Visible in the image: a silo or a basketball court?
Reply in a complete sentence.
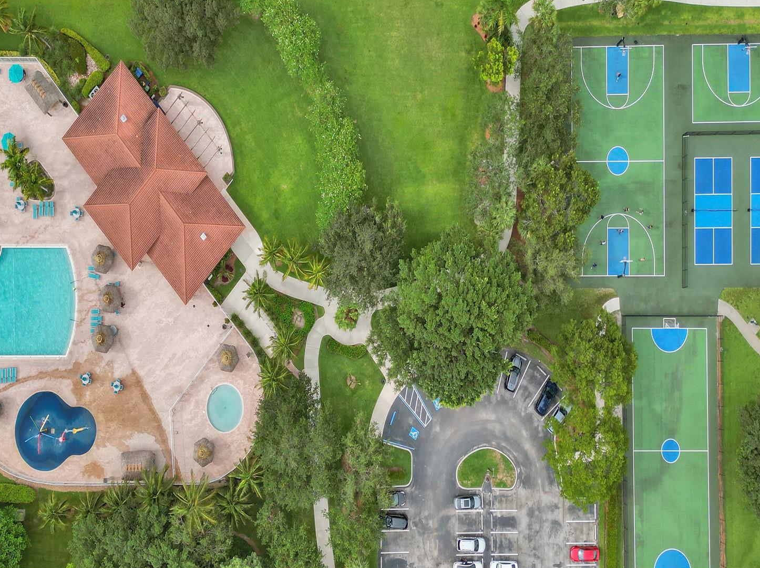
Visible in the photo is a basketball court.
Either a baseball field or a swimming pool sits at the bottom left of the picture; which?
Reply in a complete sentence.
There is a swimming pool at the bottom left of the picture.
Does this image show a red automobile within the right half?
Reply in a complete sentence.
Yes, a red automobile can be seen within the right half.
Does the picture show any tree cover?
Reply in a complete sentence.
Yes, tree cover can be seen from above here.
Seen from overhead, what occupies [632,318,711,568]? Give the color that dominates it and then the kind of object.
green sports court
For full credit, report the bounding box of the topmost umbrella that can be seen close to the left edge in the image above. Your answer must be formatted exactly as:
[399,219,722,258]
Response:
[9,64,24,85]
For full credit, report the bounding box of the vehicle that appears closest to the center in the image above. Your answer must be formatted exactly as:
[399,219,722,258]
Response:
[504,354,521,395]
